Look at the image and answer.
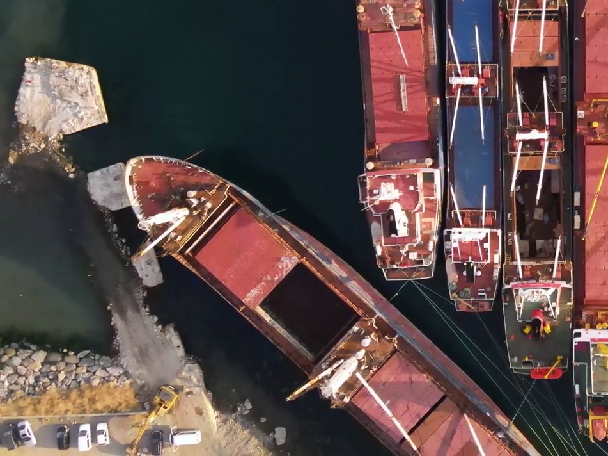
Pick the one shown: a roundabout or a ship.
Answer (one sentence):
There is a ship in the scene.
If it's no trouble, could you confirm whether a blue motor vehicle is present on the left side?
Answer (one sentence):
No, there's no blue motor vehicle to be seen on the left side.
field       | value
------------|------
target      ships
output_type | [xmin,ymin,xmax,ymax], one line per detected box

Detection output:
[498,0,573,377]
[355,0,446,287]
[572,0,608,442]
[124,150,547,456]
[444,0,504,311]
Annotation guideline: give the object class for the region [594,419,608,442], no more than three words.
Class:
boat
